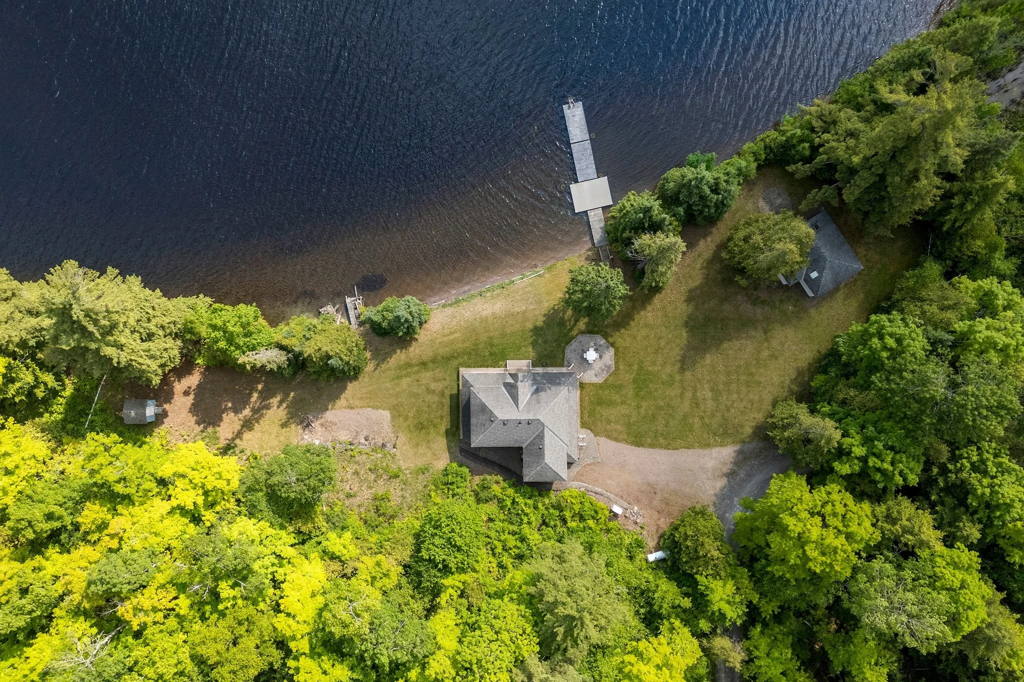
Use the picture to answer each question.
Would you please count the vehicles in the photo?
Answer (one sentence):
No vehicles are visible.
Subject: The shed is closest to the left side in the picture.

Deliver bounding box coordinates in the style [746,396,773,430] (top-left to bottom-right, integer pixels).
[118,399,164,424]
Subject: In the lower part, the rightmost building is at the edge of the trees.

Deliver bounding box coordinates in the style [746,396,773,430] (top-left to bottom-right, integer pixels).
[459,360,588,483]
